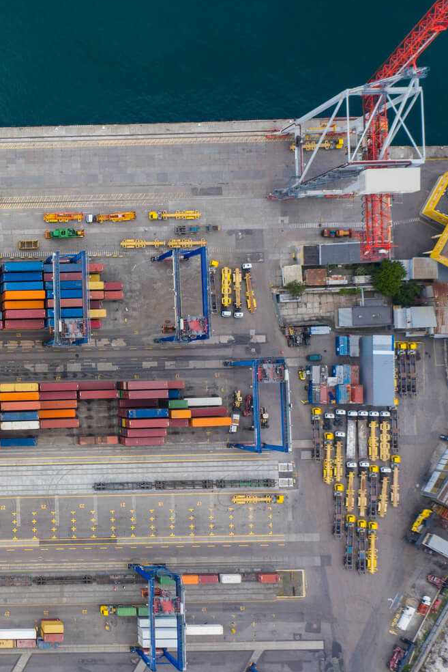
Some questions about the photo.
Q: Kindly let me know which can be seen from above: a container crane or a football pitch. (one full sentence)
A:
The image shows a container crane.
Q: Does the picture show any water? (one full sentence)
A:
Yes, there's water in this view.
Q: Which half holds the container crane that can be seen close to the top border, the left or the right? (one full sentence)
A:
The container crane that can be seen close to the top border sits on the right side.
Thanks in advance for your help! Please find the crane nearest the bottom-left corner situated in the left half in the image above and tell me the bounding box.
[126,565,191,672]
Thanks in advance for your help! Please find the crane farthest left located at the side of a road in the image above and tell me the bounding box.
[39,251,99,345]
